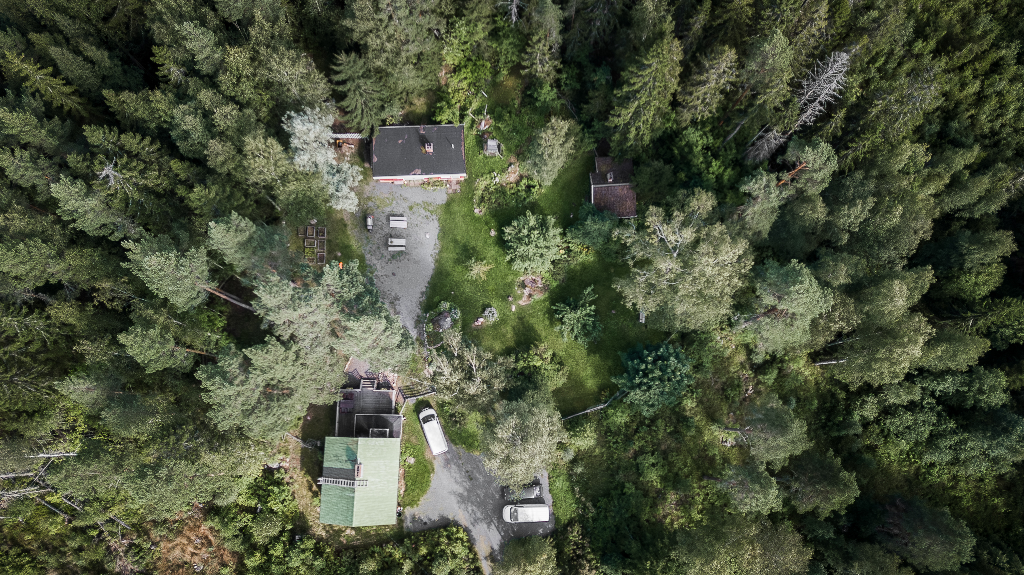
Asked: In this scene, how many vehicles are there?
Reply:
3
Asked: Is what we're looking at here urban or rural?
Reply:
rural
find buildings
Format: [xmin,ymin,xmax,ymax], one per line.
[486,140,505,161]
[319,437,403,527]
[373,124,467,185]
[590,156,638,219]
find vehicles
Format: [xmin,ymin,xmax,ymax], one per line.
[501,503,550,527]
[418,407,449,458]
[504,483,545,504]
